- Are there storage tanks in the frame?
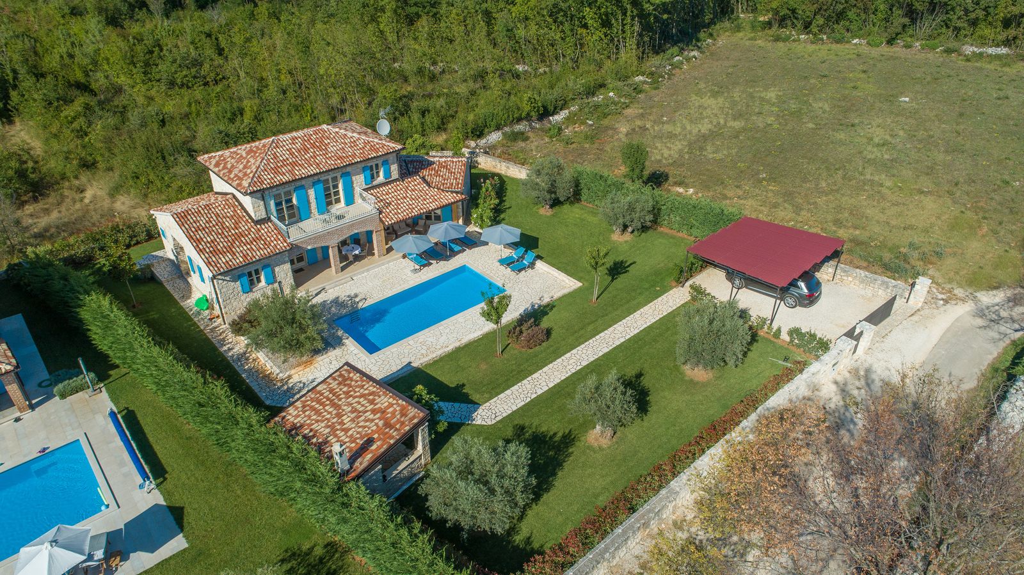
No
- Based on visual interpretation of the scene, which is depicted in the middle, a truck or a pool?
pool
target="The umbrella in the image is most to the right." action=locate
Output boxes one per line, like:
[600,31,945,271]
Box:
[480,220,523,258]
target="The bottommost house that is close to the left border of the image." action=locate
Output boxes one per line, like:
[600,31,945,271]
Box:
[0,329,34,412]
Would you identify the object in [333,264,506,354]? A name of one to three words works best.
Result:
swimming pool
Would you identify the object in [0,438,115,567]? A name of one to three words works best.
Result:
swimming pool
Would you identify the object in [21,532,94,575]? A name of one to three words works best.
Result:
umbrella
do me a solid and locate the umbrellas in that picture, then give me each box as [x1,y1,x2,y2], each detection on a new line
[389,231,435,274]
[21,532,94,575]
[424,217,469,257]
[480,220,523,258]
